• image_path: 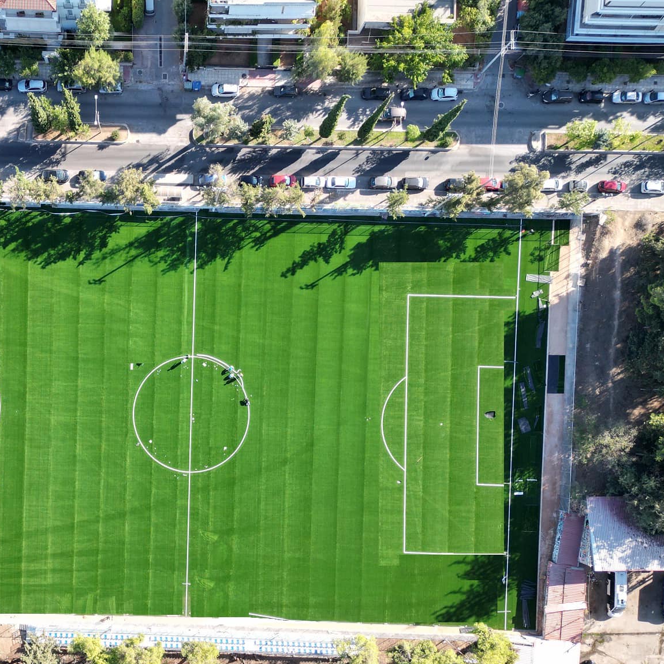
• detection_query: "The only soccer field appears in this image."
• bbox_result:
[0,205,569,632]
